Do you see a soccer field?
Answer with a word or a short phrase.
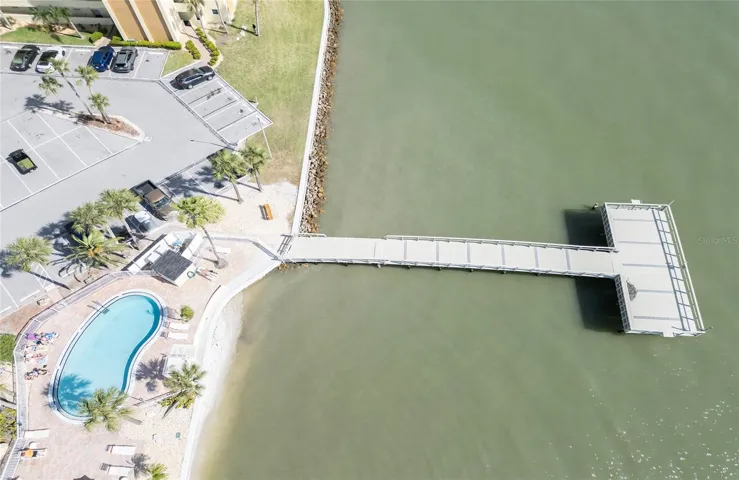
No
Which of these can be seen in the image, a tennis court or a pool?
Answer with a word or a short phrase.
pool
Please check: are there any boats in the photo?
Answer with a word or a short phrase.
No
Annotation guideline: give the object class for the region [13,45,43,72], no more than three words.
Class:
car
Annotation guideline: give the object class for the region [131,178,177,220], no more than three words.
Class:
truck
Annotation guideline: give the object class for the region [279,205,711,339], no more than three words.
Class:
pier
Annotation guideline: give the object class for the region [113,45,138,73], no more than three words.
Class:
car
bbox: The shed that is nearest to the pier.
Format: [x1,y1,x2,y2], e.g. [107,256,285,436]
[125,227,201,287]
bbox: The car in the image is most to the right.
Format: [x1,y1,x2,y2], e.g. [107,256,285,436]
[172,67,214,90]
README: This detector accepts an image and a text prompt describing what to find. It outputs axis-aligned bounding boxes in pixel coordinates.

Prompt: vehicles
[113,45,138,73]
[131,178,177,220]
[172,67,214,90]
[13,45,43,72]
[7,147,39,175]
[134,201,162,235]
[55,219,85,248]
[89,45,114,71]
[39,45,67,73]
